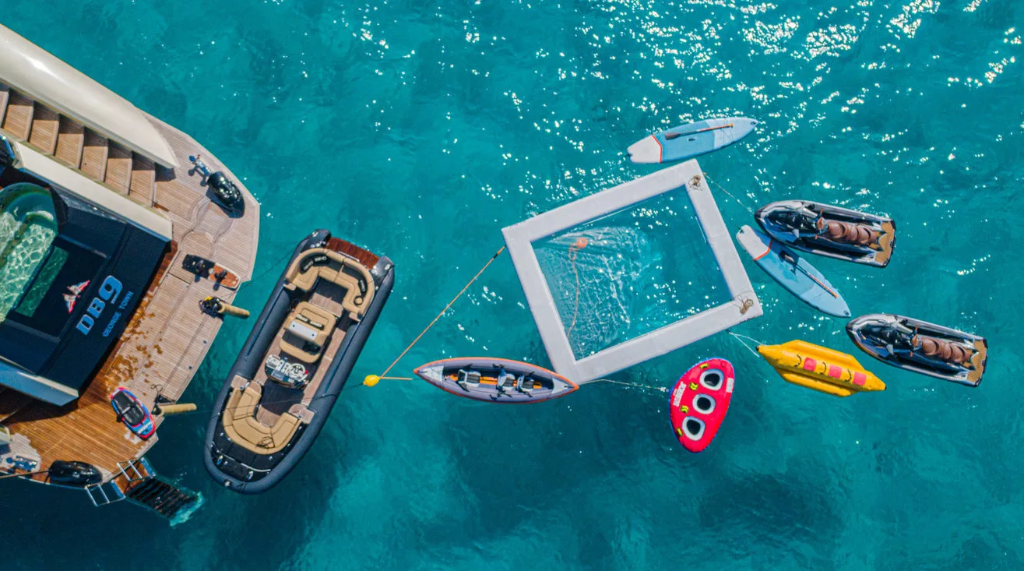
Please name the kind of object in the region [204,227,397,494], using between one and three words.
boat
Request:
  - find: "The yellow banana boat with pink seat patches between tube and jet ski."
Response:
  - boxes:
[758,338,890,396]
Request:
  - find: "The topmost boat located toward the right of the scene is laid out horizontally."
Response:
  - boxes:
[751,202,900,272]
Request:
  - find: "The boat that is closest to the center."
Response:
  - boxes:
[410,353,581,402]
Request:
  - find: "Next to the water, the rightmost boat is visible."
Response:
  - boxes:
[841,316,992,389]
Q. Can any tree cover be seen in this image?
No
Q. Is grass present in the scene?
No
